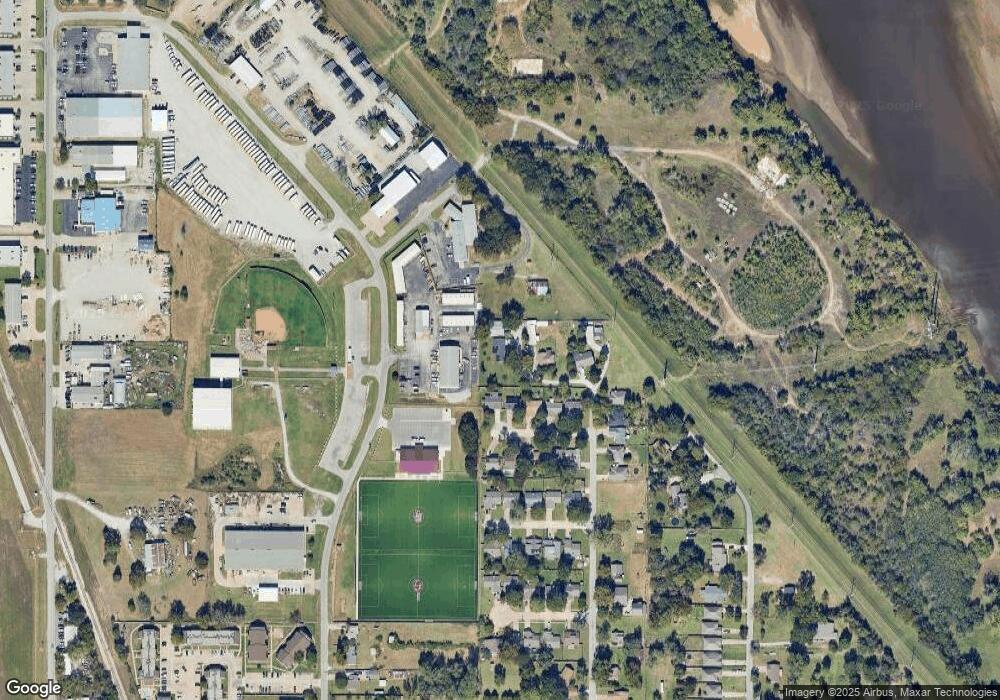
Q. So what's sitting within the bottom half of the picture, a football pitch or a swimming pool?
football pitch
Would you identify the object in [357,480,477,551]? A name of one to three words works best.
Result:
soccer field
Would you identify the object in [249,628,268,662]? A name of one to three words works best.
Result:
building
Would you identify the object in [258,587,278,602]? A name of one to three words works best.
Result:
shed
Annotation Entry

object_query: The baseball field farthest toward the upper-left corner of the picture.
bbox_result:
[214,266,327,367]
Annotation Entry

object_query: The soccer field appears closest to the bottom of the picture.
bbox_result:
[357,551,478,620]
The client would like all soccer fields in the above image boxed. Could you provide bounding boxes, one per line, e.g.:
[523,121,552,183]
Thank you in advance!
[357,551,478,620]
[357,480,477,551]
